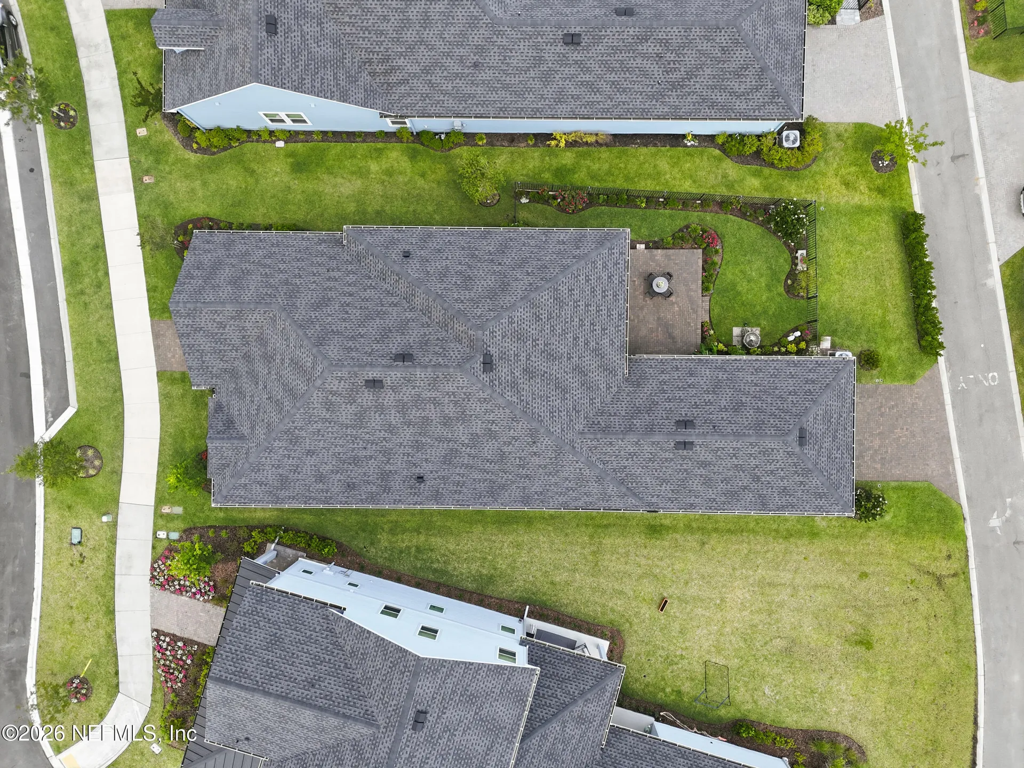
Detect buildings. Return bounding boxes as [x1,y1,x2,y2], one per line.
[170,225,858,516]
[150,0,808,139]
[179,533,793,768]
